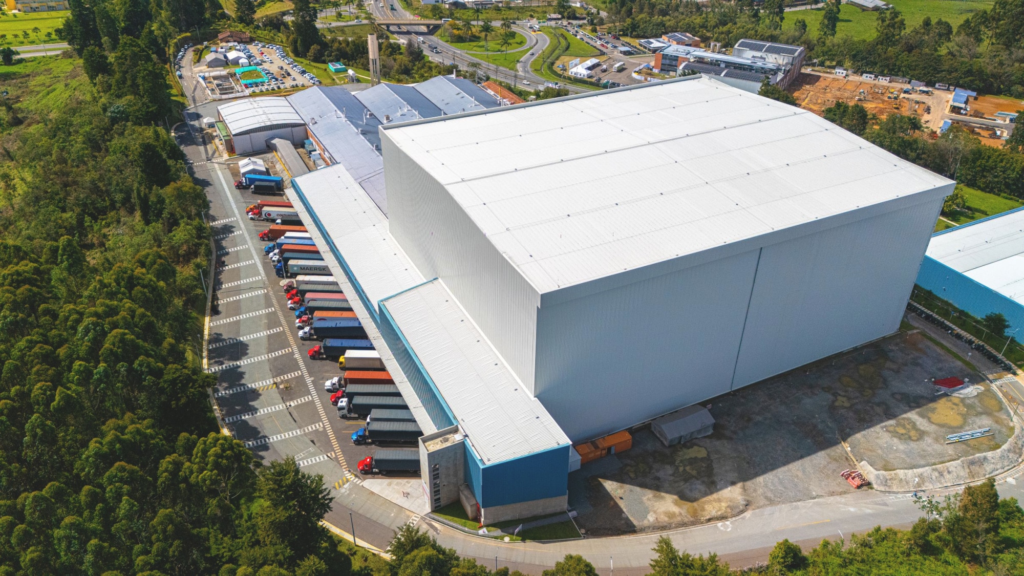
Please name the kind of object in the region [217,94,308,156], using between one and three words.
building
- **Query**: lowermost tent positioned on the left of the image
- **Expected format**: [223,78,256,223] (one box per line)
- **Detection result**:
[234,156,269,179]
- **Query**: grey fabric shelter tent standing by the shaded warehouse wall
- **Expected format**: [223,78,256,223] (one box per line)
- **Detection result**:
[652,406,716,446]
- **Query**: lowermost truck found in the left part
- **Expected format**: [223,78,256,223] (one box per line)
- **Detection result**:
[353,450,422,474]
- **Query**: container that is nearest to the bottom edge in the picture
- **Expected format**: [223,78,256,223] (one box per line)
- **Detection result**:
[578,431,633,463]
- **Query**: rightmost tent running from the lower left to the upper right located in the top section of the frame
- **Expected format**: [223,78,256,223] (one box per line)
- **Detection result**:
[572,58,606,80]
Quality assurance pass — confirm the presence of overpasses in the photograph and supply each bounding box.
[371,17,447,35]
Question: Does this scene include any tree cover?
Yes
